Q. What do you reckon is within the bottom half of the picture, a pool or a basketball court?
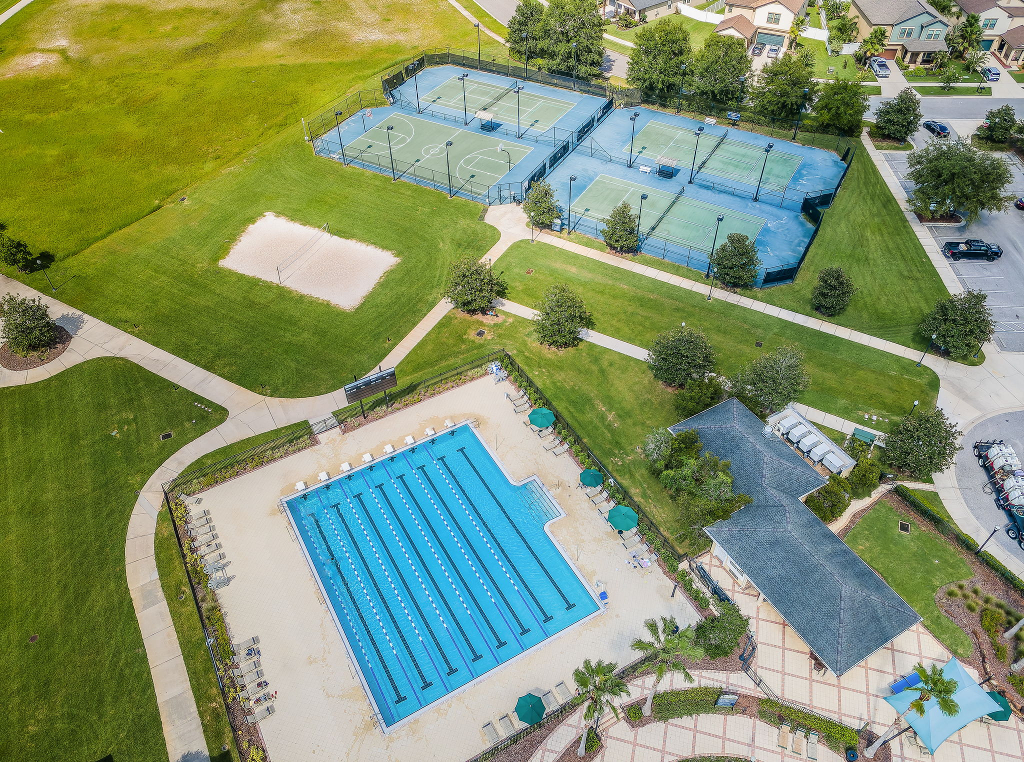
pool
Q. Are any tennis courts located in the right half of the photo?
Yes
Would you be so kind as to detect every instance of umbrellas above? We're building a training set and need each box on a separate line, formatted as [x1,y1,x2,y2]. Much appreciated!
[528,409,555,429]
[979,687,1018,726]
[578,467,605,490]
[513,691,548,727]
[606,506,640,534]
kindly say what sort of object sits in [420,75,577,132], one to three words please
tennis court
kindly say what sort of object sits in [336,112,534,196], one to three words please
basketball court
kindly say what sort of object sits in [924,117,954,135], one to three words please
car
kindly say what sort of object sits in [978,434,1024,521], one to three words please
trailer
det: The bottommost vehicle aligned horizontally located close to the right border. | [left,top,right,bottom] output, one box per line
[945,238,1008,260]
